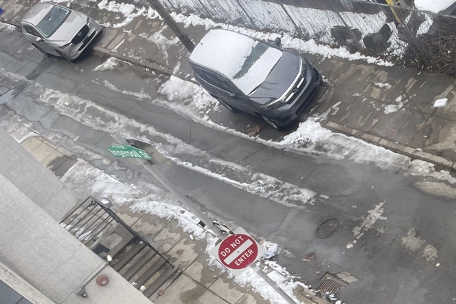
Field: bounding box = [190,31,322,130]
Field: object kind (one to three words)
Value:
car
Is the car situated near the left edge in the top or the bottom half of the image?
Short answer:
top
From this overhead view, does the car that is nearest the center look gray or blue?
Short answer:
gray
